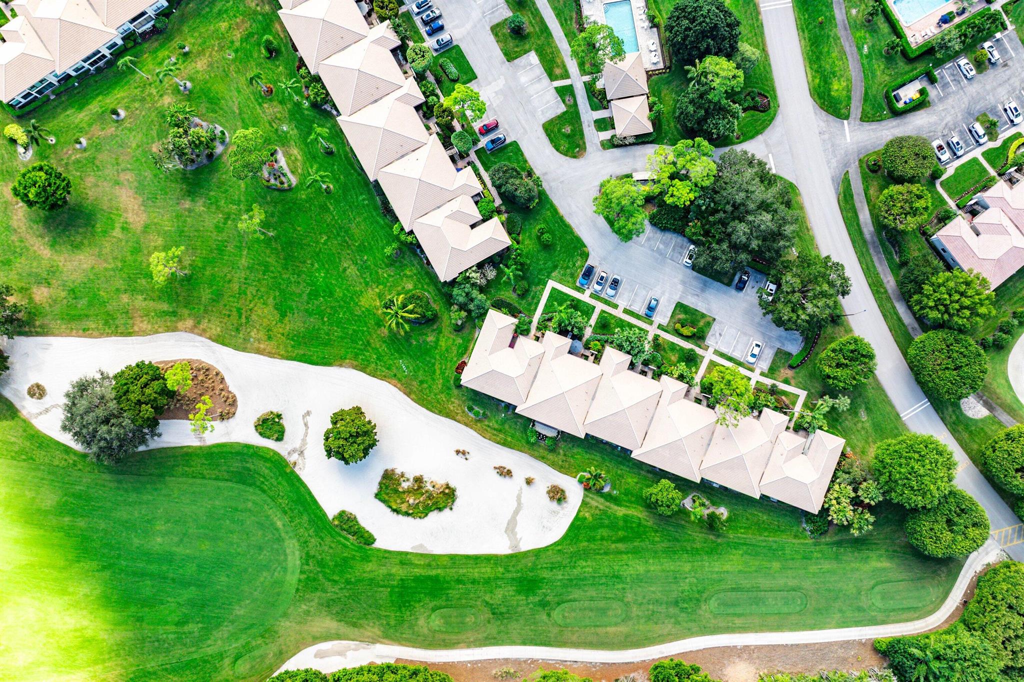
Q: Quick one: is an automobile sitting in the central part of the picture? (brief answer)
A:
Yes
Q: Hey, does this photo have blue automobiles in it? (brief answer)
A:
Yes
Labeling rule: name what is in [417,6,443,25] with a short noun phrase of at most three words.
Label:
car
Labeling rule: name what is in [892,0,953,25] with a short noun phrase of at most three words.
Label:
swimming pool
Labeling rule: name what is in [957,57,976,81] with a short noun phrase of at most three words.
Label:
car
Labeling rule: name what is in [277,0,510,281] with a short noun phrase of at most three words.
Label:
building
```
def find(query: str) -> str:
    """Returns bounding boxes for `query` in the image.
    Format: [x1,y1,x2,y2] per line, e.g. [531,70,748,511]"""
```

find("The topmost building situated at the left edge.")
[0,0,202,106]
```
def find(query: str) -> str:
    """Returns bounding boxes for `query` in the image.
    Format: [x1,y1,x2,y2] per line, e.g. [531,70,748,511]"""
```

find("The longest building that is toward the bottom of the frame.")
[460,308,846,514]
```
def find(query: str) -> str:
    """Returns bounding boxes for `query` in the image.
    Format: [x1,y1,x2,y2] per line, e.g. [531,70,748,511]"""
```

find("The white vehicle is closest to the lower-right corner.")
[745,339,763,365]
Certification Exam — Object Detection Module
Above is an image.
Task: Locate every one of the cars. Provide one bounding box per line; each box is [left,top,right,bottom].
[1003,100,1023,126]
[429,32,455,52]
[644,294,659,318]
[593,269,609,293]
[423,18,447,37]
[734,266,752,293]
[981,40,1000,65]
[968,120,987,146]
[483,133,509,152]
[957,57,976,81]
[745,339,763,365]
[946,134,965,158]
[578,262,595,288]
[681,243,697,268]
[476,117,501,136]
[417,6,443,25]
[931,138,950,164]
[409,0,435,16]
[605,273,622,299]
